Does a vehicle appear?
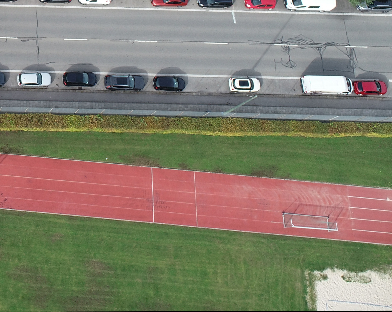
Yes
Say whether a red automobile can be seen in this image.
Yes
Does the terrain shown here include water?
No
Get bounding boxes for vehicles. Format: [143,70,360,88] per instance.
[39,0,72,5]
[78,0,113,6]
[351,79,387,97]
[150,0,188,9]
[300,75,351,96]
[358,0,392,15]
[152,75,185,93]
[105,74,146,92]
[17,72,51,90]
[227,77,261,94]
[197,0,233,10]
[244,0,277,11]
[63,71,96,89]
[285,0,338,13]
